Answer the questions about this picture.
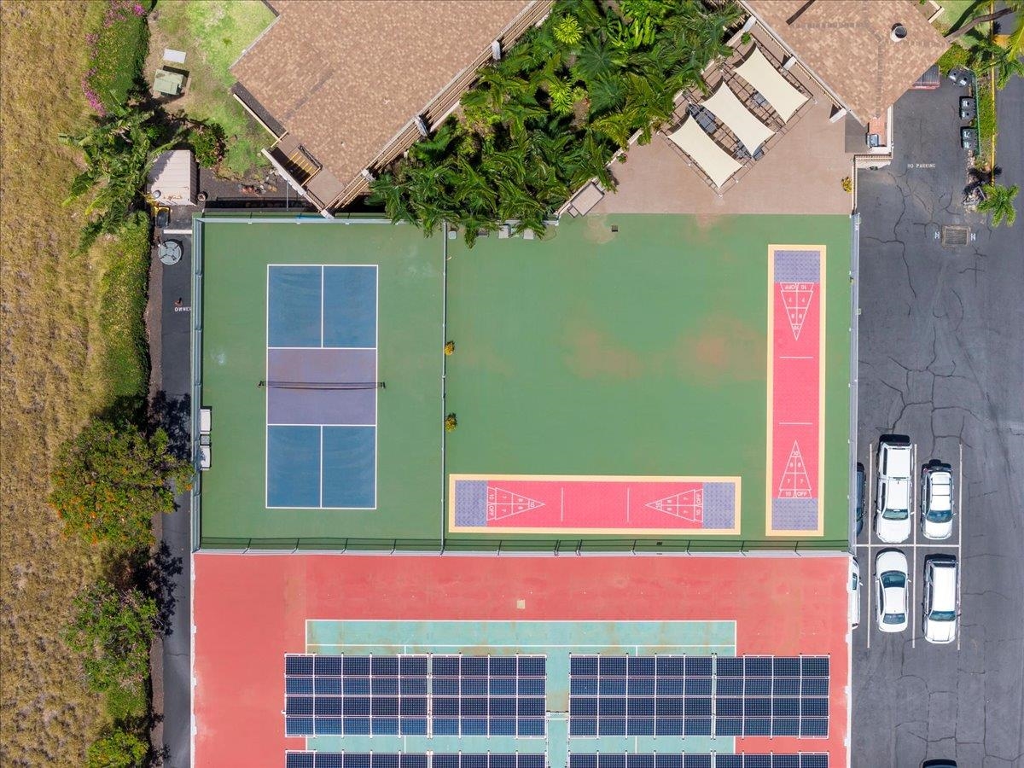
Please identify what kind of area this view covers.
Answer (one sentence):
What you see here is a sports ground.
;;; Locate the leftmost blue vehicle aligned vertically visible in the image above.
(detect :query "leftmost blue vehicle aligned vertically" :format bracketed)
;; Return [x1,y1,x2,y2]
[857,464,870,538]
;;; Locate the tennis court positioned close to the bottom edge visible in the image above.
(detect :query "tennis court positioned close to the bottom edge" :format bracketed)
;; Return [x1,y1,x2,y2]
[193,556,851,768]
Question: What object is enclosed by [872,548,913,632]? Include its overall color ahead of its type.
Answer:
white car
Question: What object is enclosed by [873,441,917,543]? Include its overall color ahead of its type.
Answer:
white truck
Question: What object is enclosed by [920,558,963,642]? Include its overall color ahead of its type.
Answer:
white car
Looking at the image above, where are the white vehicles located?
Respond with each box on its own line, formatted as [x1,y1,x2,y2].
[920,558,963,642]
[872,548,913,632]
[873,441,917,543]
[919,462,959,540]
[850,556,865,629]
